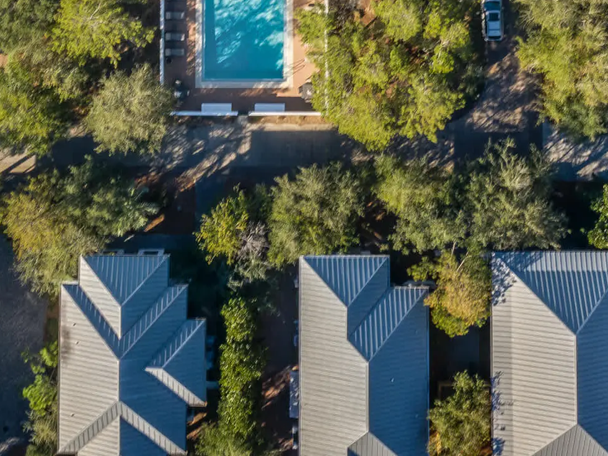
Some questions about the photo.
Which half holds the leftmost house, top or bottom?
bottom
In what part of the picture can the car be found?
top right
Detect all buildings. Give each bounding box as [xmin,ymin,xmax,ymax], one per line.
[57,245,208,456]
[297,253,435,456]
[489,251,608,456]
